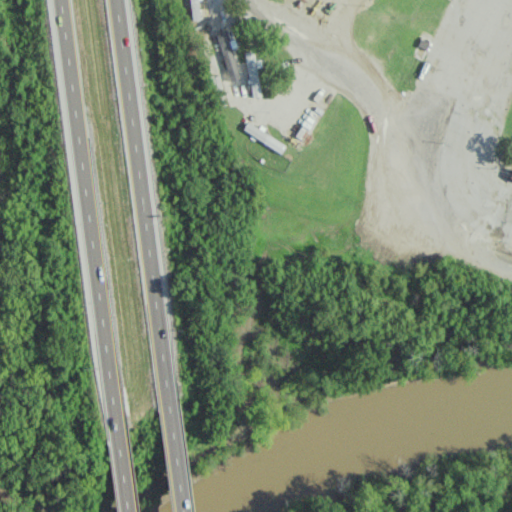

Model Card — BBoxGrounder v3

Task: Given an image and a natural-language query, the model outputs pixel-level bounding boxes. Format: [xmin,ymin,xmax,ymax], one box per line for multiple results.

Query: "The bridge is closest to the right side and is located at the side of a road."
[158,406,194,512]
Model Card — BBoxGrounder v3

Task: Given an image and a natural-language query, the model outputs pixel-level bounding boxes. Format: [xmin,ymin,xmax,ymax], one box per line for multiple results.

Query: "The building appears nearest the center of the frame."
[244,123,288,155]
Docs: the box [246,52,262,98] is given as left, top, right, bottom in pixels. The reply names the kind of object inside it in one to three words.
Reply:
house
